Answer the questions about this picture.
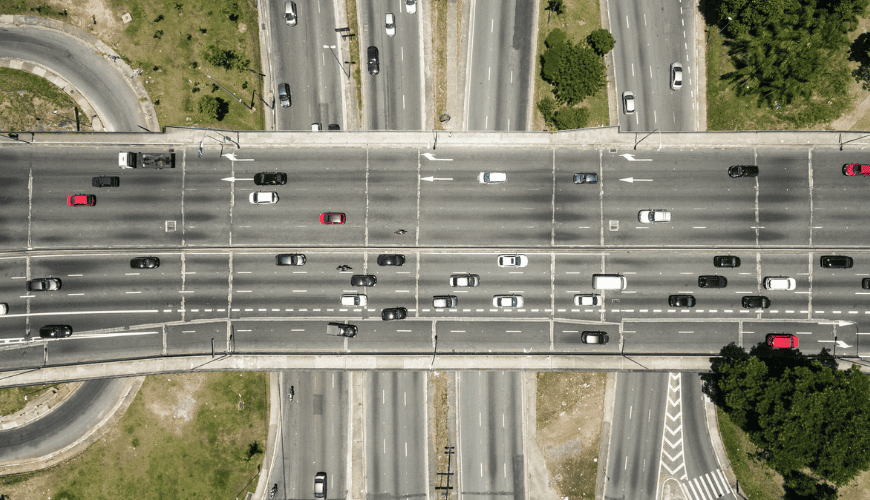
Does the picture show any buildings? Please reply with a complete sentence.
No, no building is visible in the view.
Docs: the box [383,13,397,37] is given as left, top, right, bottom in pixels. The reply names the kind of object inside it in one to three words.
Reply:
vehicle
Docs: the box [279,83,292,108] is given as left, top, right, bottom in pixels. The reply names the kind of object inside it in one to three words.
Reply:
vehicle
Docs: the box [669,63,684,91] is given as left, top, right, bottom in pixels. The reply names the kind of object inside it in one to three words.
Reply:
car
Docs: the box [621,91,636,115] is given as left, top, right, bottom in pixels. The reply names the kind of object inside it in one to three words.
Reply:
car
